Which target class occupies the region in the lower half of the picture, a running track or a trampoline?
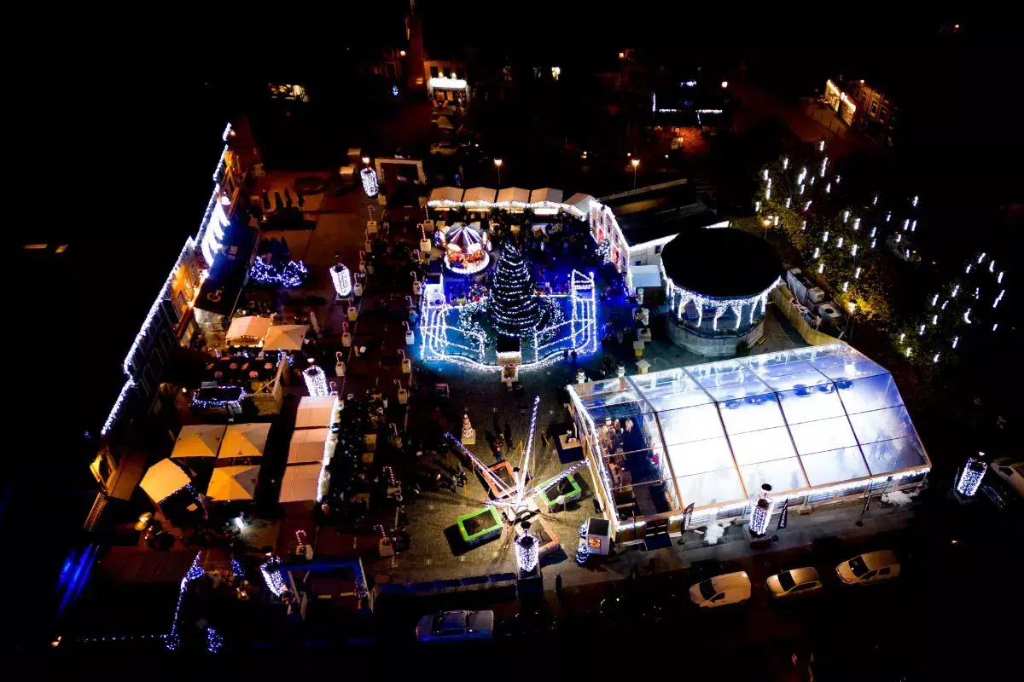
trampoline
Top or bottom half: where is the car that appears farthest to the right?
bottom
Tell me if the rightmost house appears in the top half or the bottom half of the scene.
top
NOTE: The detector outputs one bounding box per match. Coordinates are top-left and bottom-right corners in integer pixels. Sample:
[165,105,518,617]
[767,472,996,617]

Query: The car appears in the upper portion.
[430,140,463,157]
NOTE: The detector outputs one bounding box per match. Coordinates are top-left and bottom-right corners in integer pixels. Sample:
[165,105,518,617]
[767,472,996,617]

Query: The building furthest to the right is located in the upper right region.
[862,53,956,145]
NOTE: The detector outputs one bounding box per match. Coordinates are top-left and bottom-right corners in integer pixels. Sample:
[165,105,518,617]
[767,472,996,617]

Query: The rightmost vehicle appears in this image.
[986,451,1024,489]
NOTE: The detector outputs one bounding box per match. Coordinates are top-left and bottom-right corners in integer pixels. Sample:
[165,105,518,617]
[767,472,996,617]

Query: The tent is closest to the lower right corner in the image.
[567,341,935,564]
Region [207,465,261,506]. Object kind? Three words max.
umbrella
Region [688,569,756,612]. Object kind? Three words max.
vehicle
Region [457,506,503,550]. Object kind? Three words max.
trampoline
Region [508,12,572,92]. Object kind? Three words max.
house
